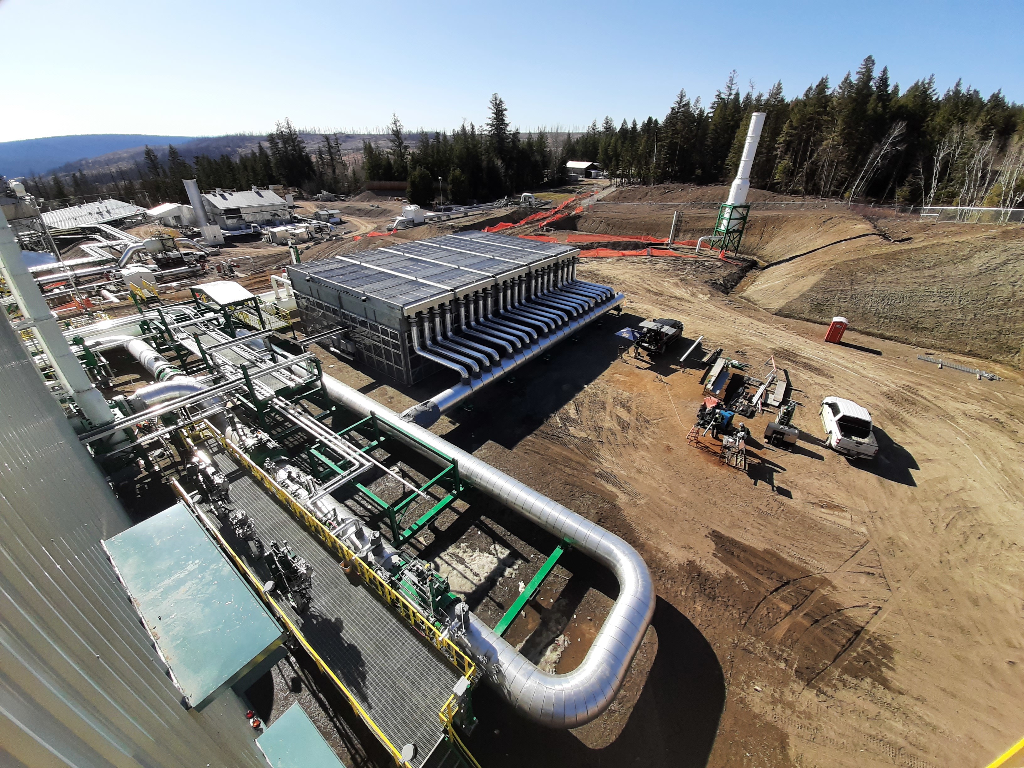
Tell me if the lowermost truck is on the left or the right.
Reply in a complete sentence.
The lowermost truck is on the right side of the image.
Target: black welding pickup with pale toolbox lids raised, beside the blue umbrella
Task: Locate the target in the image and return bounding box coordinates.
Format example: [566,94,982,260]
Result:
[636,317,687,352]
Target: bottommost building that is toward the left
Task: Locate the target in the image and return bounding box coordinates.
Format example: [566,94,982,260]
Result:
[0,337,343,768]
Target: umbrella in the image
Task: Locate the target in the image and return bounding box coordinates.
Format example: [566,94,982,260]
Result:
[613,327,645,358]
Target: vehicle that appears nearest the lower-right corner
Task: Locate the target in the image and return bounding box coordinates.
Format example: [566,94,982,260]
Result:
[819,393,882,463]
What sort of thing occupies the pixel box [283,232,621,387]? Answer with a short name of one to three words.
building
